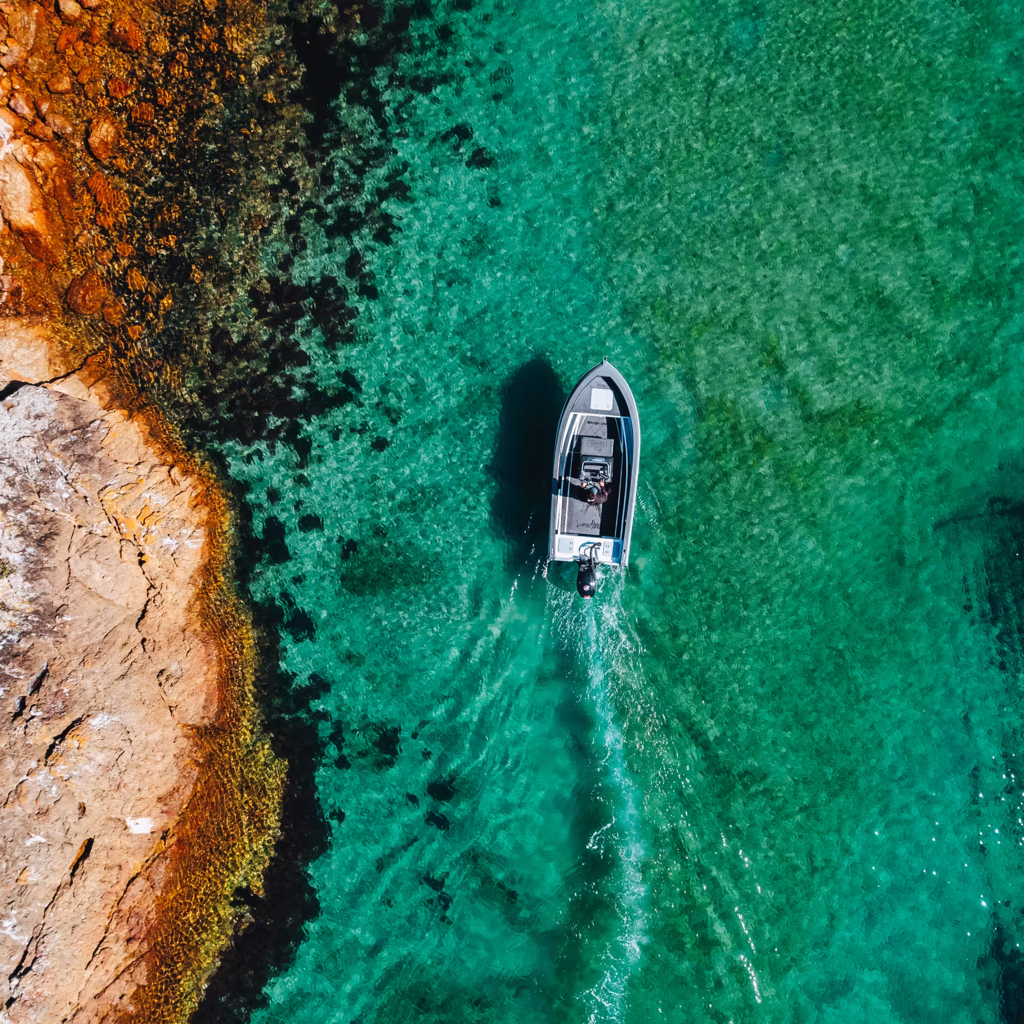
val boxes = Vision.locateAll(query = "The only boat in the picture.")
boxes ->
[548,356,640,598]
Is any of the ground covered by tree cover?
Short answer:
No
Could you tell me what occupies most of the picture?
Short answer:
water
